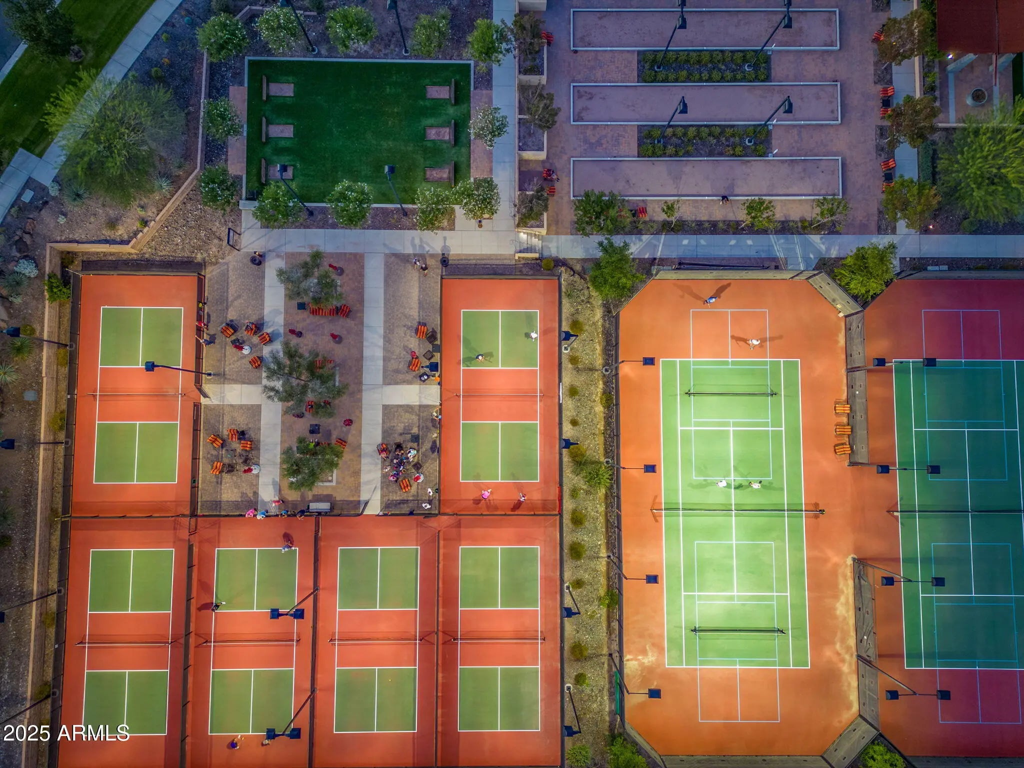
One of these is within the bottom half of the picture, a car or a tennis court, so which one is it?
tennis court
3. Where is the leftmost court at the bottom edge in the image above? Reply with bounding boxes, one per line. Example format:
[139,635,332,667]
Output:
[59,516,192,768]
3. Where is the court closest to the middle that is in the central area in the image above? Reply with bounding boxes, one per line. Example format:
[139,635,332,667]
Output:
[441,278,560,515]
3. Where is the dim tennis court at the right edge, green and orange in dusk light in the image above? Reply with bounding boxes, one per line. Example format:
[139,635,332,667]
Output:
[846,280,1024,756]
